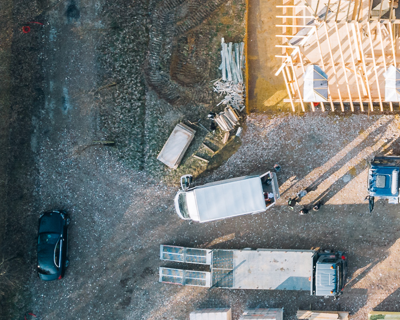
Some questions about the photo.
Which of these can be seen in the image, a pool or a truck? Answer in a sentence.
This aerial view contains a truck.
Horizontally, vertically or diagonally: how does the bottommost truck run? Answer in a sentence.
Seen from above, the bottommost truck lies horizontally.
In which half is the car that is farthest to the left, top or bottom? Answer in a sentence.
Seen from above, the car that is farthest to the left lies in the bottom half of the view.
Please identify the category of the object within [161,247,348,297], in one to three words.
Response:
truck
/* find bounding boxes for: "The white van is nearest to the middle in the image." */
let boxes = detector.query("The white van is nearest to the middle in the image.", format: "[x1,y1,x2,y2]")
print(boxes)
[170,170,287,227]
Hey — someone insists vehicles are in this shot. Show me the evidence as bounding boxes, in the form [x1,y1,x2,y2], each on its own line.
[161,247,348,297]
[170,170,287,227]
[33,208,74,280]
[366,156,400,214]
